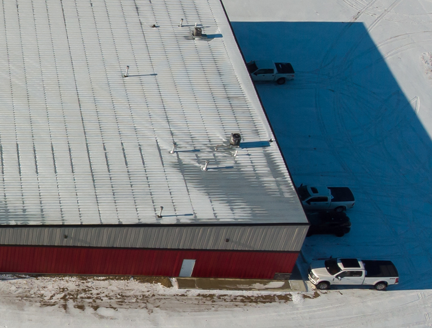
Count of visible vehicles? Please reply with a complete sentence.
My tally gives 4 vehicles in this view.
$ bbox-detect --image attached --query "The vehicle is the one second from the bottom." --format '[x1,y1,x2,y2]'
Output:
[306,210,353,238]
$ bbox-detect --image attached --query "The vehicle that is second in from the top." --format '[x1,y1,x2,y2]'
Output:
[298,184,358,213]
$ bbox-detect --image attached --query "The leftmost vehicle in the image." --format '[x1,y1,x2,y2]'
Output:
[248,59,296,84]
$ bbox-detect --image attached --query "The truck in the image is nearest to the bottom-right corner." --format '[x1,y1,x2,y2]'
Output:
[309,259,397,292]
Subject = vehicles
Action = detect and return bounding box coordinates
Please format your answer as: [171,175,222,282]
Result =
[298,184,358,213]
[306,210,353,238]
[248,59,296,84]
[309,259,397,292]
